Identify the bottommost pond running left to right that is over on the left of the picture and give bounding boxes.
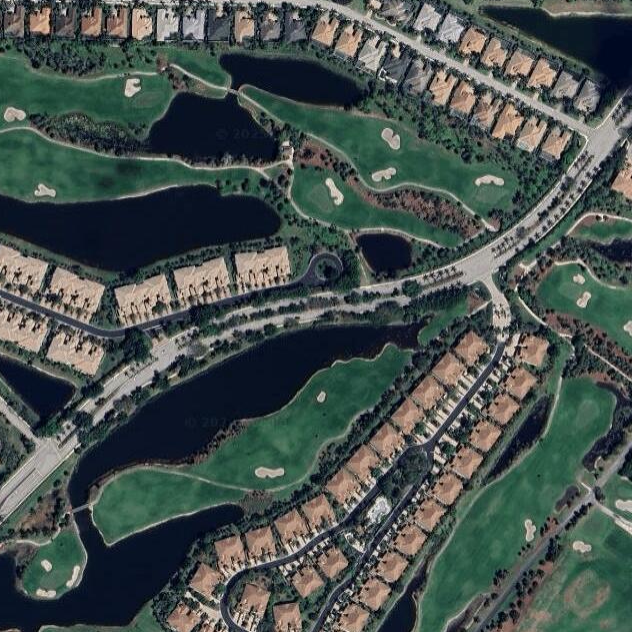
[0,186,279,272]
